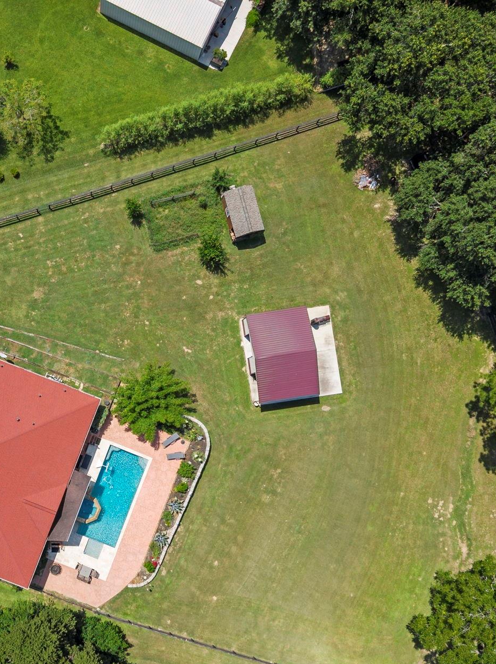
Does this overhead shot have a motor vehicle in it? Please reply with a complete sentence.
No, this view has no motor vehicle in it.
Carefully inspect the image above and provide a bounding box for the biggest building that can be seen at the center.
[236,306,320,408]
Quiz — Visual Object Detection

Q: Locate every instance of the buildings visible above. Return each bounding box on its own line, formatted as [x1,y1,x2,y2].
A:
[236,306,320,408]
[103,0,226,61]
[0,360,102,590]
[221,185,265,241]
